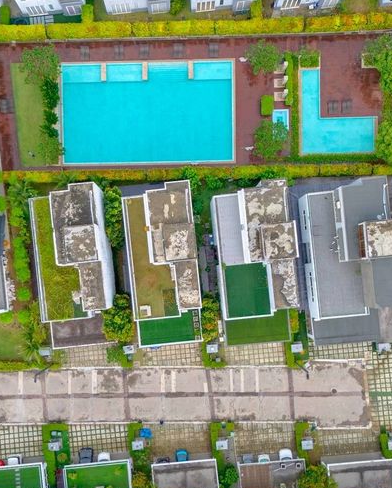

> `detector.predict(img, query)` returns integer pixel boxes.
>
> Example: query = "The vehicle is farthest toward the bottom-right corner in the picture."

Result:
[278,447,293,460]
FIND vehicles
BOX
[158,456,170,461]
[97,451,111,462]
[151,458,163,463]
[256,453,269,462]
[79,447,93,465]
[278,447,293,460]
[175,448,189,462]
[8,455,22,465]
[0,458,5,466]
[241,453,255,464]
